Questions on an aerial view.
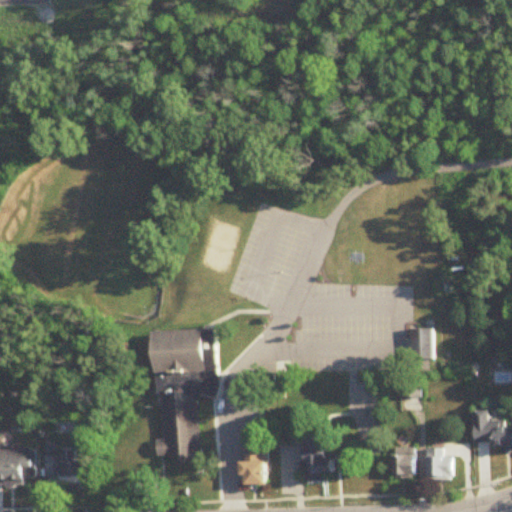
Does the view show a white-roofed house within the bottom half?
Yes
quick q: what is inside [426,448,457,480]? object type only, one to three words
house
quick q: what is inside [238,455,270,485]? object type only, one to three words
house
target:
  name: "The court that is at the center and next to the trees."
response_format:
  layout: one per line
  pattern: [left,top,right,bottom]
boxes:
[202,218,241,274]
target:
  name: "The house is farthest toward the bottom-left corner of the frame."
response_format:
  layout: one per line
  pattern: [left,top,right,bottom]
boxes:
[0,449,32,486]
